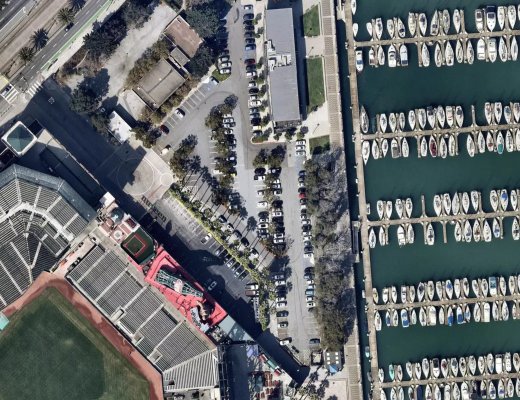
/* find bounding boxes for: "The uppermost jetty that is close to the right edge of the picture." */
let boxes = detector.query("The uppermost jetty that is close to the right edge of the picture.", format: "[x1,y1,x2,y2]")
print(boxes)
[355,8,520,68]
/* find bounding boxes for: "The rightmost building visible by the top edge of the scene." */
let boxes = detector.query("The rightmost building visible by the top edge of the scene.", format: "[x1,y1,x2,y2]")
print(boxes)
[266,7,302,130]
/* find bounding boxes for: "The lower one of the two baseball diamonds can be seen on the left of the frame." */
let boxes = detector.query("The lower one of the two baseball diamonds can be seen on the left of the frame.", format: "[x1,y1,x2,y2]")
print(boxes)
[0,264,166,400]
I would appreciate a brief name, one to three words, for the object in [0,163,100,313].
stadium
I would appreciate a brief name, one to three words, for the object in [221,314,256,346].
building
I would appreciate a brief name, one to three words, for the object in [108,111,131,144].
building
